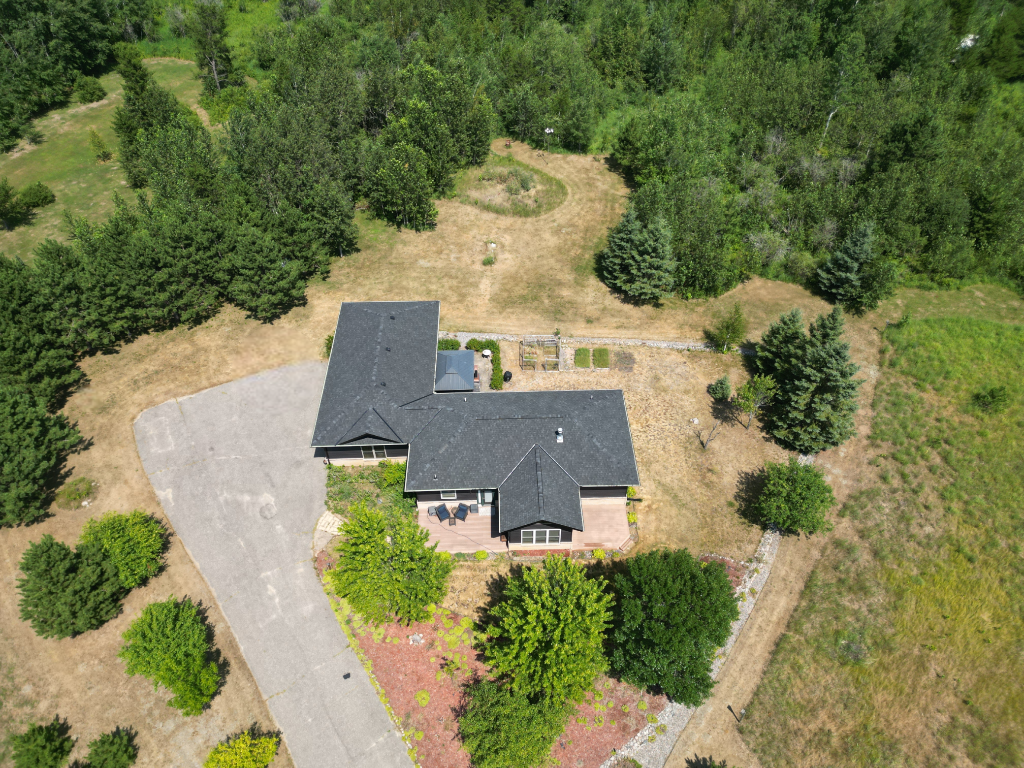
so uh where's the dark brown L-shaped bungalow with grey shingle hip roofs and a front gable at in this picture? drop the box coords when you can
[310,300,641,552]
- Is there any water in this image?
No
